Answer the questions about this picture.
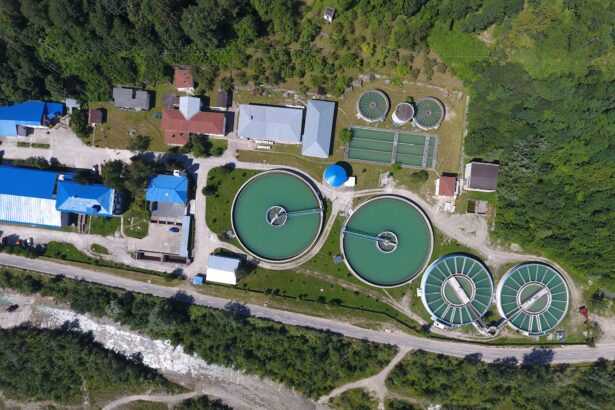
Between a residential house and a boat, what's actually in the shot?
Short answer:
residential house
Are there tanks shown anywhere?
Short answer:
Yes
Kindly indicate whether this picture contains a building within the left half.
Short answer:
Yes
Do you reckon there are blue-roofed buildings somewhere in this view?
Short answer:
Yes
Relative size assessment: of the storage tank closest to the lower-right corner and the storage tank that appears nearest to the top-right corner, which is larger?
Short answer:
the storage tank closest to the lower-right corner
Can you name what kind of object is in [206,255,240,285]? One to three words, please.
shed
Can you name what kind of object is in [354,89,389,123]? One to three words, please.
storage tank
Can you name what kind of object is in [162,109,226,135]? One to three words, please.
house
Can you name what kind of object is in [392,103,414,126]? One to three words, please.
silo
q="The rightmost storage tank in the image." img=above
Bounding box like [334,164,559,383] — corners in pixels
[491,261,571,337]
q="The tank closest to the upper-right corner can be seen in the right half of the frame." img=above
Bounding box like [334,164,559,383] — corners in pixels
[410,97,446,133]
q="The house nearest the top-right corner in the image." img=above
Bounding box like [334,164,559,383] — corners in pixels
[464,162,499,190]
